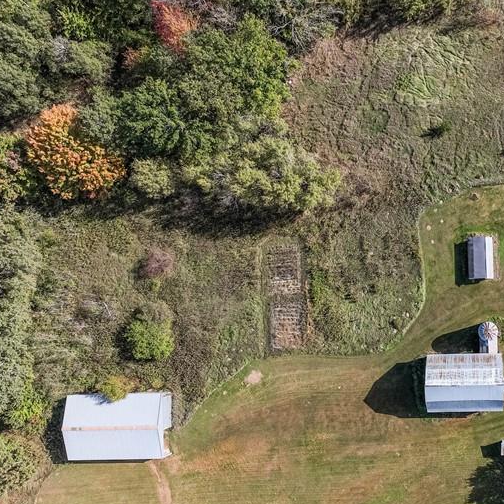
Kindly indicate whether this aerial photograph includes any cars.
No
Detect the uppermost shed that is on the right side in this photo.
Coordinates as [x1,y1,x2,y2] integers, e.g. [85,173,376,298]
[468,236,494,280]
